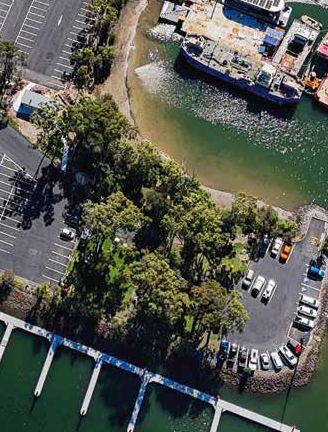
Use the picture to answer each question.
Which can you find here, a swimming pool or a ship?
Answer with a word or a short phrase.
ship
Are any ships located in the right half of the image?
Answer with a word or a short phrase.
Yes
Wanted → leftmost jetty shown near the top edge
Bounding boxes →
[159,1,189,25]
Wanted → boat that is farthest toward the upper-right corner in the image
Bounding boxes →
[296,15,321,29]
